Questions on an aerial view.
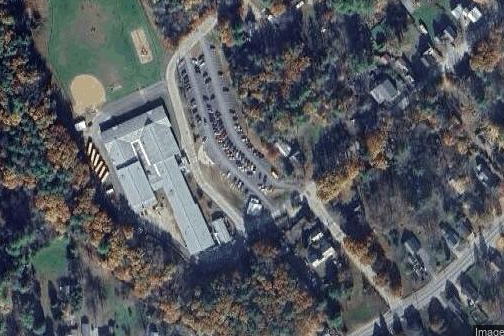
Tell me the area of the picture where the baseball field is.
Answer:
top left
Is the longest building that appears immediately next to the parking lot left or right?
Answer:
left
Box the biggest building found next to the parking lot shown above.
[101,105,215,255]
